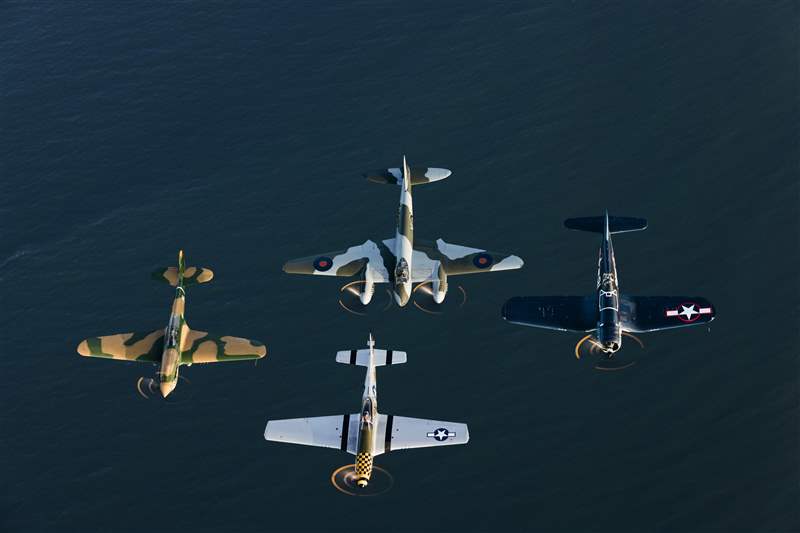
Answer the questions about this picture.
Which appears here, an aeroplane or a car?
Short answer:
aeroplane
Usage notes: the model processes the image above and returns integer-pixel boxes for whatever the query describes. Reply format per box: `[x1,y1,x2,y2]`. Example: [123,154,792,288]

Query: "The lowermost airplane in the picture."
[264,331,469,495]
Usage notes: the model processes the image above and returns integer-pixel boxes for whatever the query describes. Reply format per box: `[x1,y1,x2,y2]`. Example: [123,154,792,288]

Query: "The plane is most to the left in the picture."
[77,250,266,405]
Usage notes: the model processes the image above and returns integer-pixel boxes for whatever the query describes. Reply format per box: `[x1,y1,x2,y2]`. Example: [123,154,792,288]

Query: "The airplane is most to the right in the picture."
[503,209,716,369]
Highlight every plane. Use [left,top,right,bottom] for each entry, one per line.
[282,154,523,317]
[503,209,716,369]
[264,331,469,495]
[77,250,266,405]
